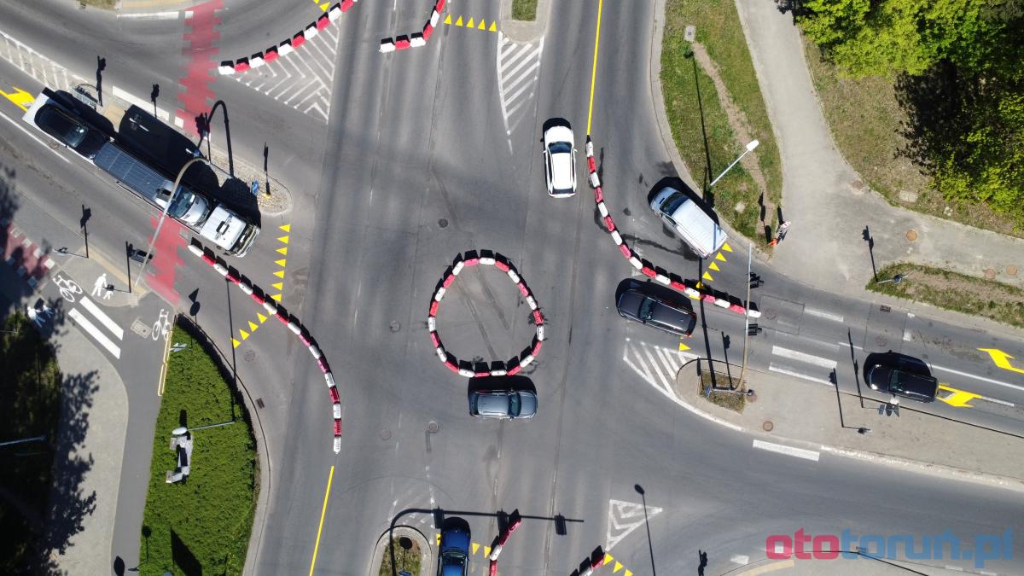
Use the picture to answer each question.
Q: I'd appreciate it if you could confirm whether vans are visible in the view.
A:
Yes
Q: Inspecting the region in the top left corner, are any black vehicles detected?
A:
Yes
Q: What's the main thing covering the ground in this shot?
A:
paved ground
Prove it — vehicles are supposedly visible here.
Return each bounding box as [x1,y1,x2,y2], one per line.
[436,529,475,576]
[29,98,104,157]
[21,92,261,259]
[649,195,730,260]
[540,127,579,198]
[469,385,537,423]
[863,364,937,405]
[618,291,697,340]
